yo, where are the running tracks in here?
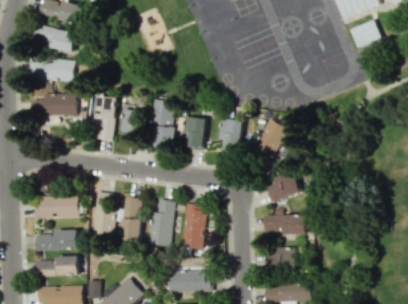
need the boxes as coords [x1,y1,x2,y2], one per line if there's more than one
[260,0,359,99]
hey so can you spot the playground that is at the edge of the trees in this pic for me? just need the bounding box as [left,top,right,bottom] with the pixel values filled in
[140,8,175,52]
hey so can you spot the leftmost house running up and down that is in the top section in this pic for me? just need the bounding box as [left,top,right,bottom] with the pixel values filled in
[94,94,115,141]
